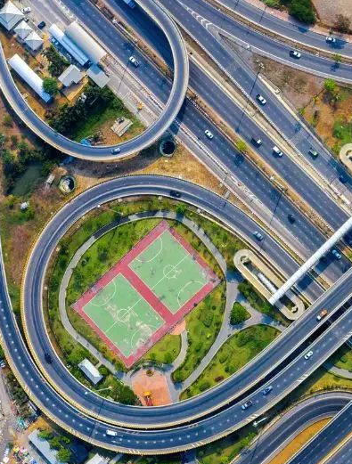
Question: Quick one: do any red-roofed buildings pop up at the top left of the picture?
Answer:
No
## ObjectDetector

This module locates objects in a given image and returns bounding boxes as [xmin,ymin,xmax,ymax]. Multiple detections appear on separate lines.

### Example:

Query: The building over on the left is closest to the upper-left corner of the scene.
[0,1,25,32]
